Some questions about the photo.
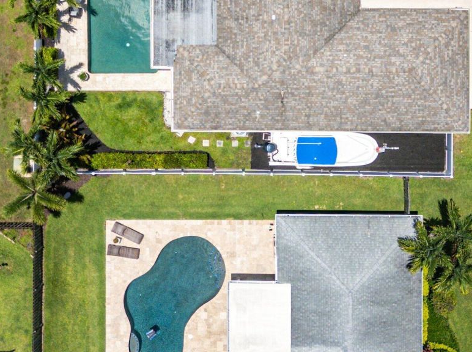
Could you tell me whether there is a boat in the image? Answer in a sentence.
Yes, the picture does show a boat.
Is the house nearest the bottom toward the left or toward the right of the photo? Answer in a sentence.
You can find the house nearest the bottom on the right side of the picture.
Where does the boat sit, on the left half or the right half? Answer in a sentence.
The boat appears in the right half of the scene.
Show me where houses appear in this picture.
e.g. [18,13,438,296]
[149,0,471,133]
[227,213,424,352]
